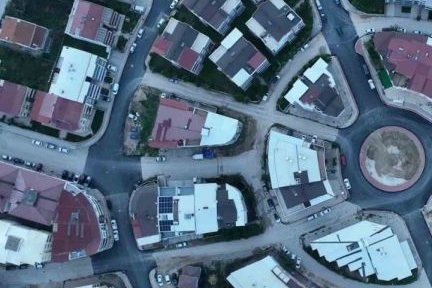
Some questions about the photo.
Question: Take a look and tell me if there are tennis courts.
No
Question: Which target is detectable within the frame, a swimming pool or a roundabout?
roundabout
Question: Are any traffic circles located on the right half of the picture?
Yes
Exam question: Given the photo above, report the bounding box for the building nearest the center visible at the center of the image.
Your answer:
[200,112,243,147]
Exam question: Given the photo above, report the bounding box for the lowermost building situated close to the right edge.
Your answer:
[309,218,417,282]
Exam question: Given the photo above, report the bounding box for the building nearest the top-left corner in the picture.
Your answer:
[0,15,54,51]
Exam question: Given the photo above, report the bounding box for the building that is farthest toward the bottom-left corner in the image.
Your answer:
[0,216,51,266]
